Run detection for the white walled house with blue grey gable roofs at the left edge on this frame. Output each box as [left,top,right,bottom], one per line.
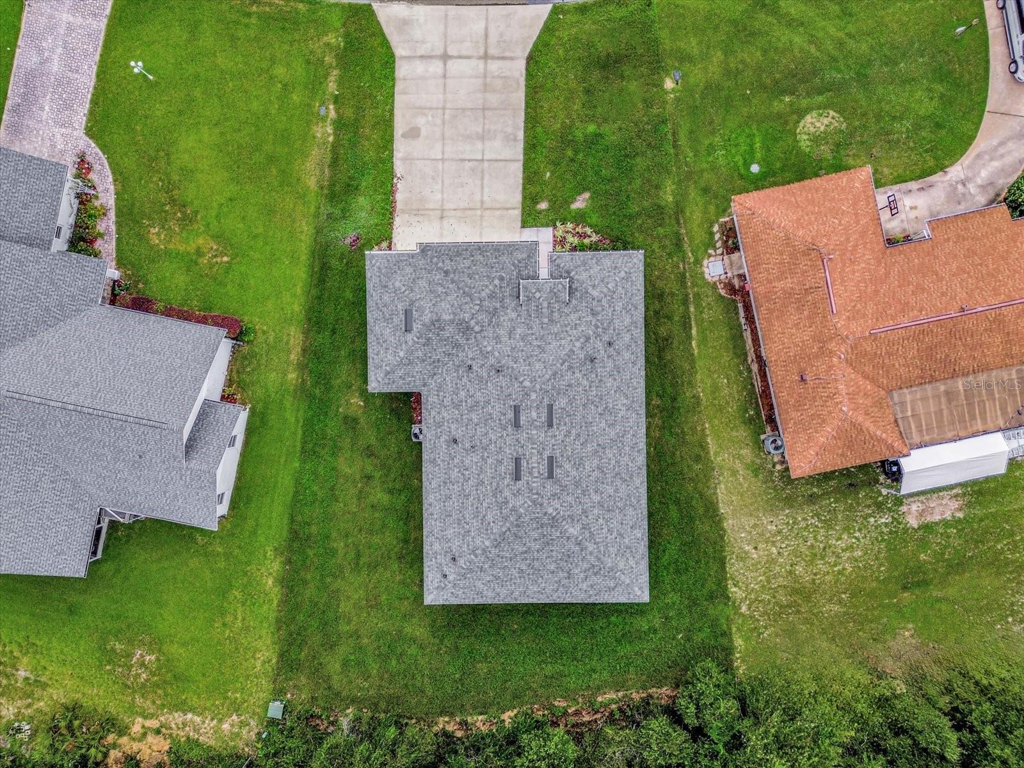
[0,148,251,579]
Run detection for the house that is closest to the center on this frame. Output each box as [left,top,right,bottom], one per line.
[366,239,649,605]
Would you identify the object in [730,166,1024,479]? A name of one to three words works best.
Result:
house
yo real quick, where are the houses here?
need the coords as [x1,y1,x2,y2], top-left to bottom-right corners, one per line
[730,166,1024,479]
[366,239,649,605]
[0,148,251,579]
